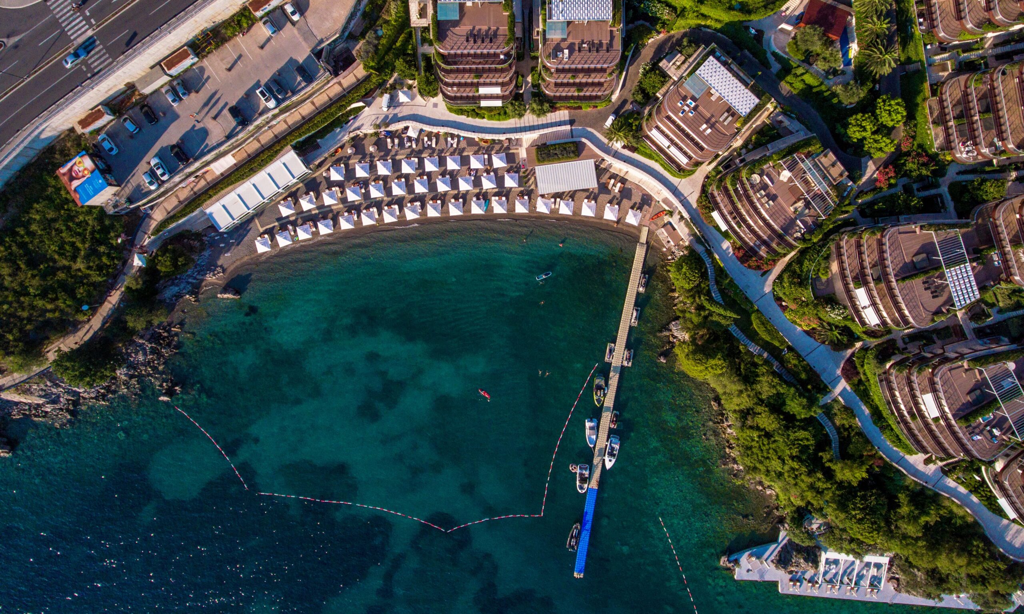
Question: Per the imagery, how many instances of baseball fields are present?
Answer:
none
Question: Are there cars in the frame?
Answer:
Yes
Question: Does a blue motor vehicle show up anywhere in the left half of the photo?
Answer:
Yes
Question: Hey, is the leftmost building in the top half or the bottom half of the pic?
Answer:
top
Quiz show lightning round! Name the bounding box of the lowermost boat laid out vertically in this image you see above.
[568,524,580,555]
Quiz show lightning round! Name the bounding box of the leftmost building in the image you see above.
[77,107,116,132]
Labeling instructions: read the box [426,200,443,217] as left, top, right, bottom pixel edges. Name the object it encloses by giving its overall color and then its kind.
white umbrella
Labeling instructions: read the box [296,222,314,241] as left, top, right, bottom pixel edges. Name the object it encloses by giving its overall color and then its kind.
white umbrella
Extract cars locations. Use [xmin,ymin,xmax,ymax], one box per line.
[62,47,86,67]
[118,113,138,135]
[255,84,275,109]
[97,132,117,156]
[282,0,301,22]
[170,77,189,100]
[137,102,157,126]
[292,61,312,86]
[266,76,286,100]
[149,156,169,180]
[259,15,278,38]
[160,84,179,107]
[168,142,188,166]
[226,102,246,126]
